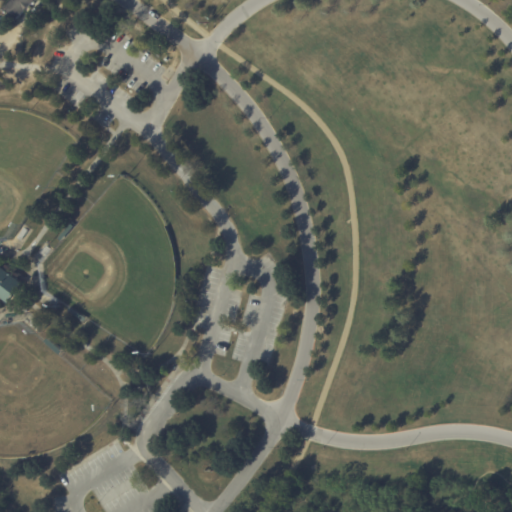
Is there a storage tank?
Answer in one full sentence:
No, no storage tank is visible in the scene.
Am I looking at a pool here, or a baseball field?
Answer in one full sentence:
Looking from above, you can make out a baseball field.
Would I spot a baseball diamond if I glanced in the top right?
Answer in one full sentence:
No, there's no baseball diamond to be seen in the top right.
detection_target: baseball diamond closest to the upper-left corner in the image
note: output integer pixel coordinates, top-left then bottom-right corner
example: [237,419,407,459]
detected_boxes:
[0,109,76,245]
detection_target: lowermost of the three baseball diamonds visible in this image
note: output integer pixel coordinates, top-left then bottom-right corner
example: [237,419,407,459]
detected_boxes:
[0,322,112,458]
